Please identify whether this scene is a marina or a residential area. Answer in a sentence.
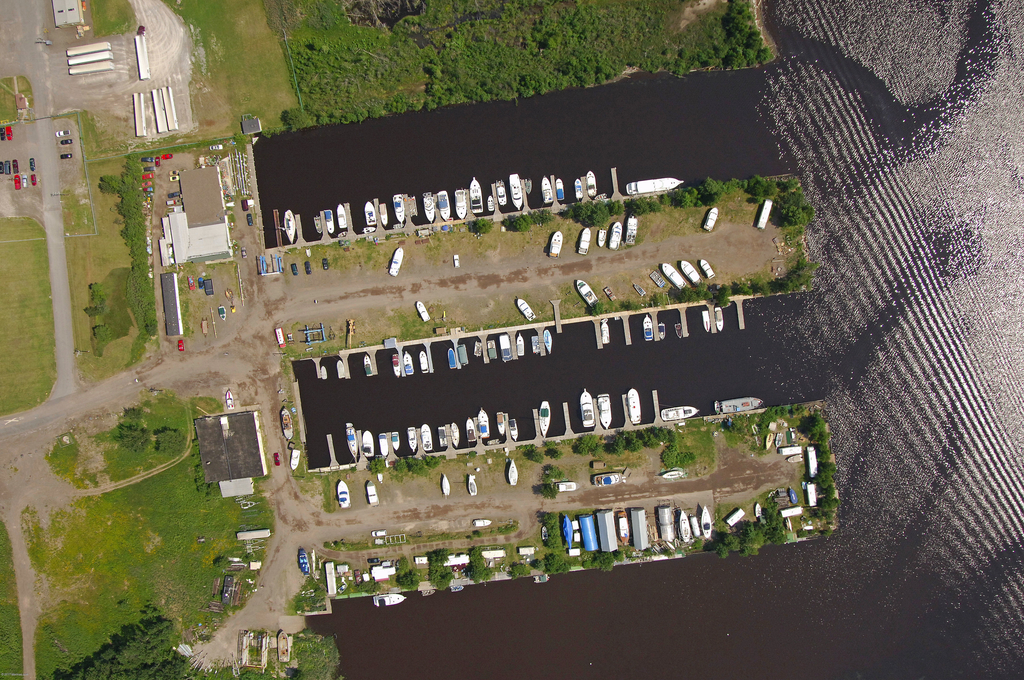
This image shows a marina.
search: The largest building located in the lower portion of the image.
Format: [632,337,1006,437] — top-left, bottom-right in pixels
[195,411,268,483]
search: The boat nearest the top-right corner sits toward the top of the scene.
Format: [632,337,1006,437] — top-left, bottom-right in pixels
[704,208,719,232]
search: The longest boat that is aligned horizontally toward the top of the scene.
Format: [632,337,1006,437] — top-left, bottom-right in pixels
[626,178,680,195]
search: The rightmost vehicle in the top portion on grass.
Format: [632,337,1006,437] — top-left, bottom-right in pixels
[756,200,772,230]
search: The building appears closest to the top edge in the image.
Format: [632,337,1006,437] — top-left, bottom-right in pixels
[55,0,88,30]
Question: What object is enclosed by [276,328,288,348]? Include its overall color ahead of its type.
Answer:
white vehicle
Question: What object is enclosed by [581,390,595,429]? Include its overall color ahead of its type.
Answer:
white boat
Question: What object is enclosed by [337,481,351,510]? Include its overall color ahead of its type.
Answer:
white boat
